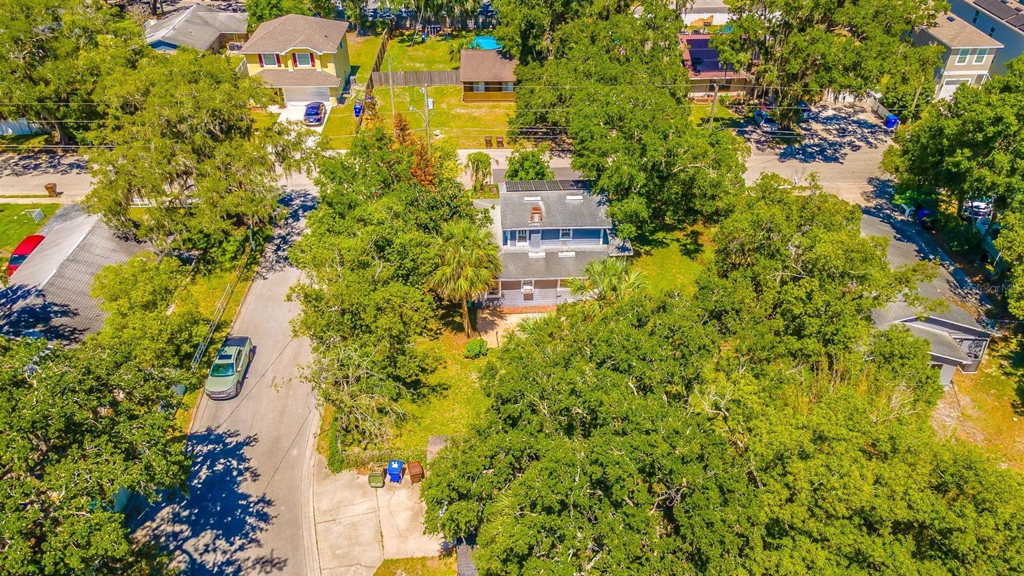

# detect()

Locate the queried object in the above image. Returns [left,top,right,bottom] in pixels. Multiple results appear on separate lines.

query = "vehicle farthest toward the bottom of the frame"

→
[206,330,253,393]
